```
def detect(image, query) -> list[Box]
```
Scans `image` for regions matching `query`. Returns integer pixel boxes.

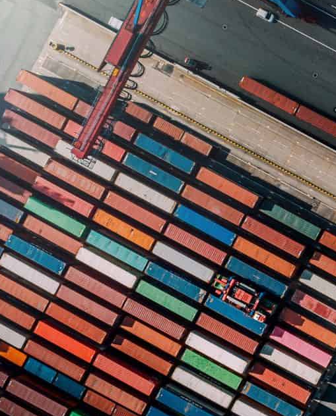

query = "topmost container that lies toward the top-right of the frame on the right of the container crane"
[239,75,301,117]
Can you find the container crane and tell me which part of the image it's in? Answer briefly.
top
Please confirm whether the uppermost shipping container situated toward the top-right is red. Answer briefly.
Yes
